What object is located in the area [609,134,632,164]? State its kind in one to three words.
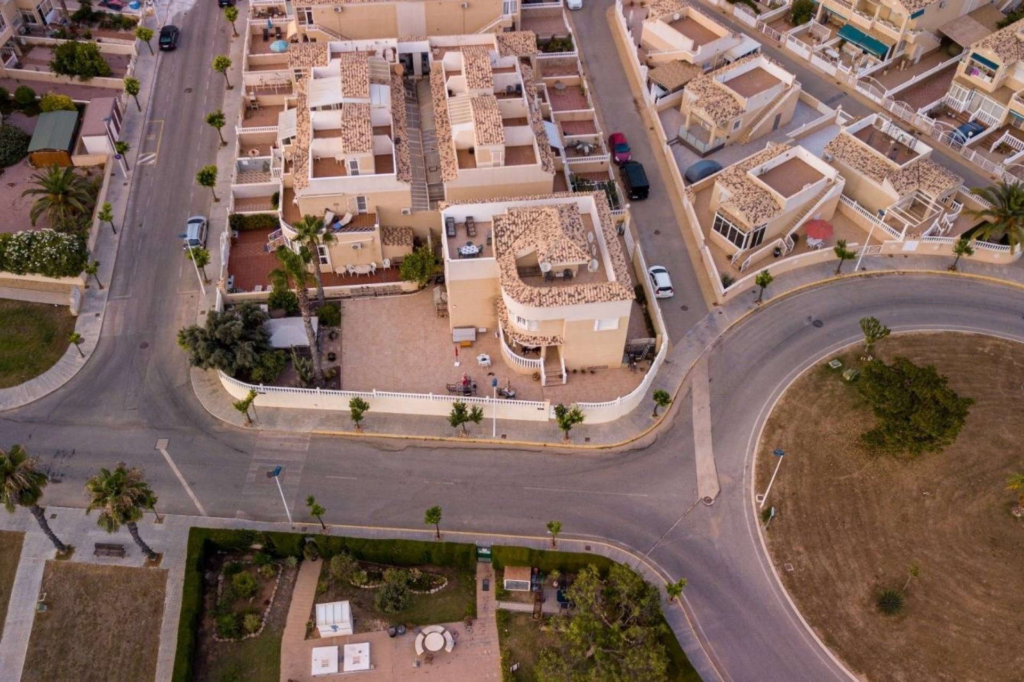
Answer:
car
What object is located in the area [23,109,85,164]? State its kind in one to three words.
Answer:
shed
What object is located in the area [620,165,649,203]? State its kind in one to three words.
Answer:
car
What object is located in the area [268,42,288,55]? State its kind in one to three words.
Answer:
umbrella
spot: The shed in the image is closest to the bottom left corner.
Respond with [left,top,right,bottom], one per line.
[314,588,353,637]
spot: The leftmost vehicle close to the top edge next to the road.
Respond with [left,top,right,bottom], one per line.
[157,25,180,51]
